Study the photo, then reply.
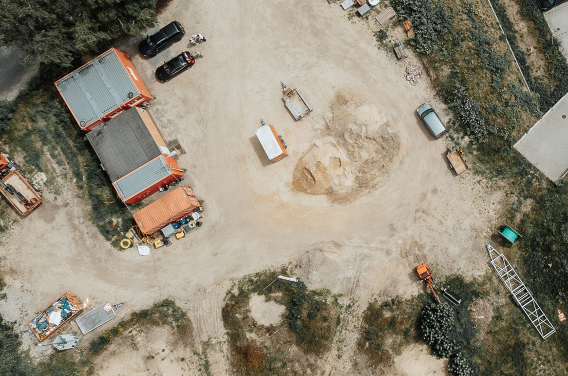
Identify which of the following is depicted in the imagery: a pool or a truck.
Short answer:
truck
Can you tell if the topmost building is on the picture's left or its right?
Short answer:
left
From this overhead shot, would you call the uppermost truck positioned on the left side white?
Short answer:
No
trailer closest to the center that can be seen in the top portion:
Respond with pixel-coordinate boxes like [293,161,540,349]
[256,121,288,163]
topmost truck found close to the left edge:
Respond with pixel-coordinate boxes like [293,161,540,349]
[0,150,42,219]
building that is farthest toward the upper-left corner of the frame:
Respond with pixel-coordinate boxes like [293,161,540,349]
[55,48,154,131]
